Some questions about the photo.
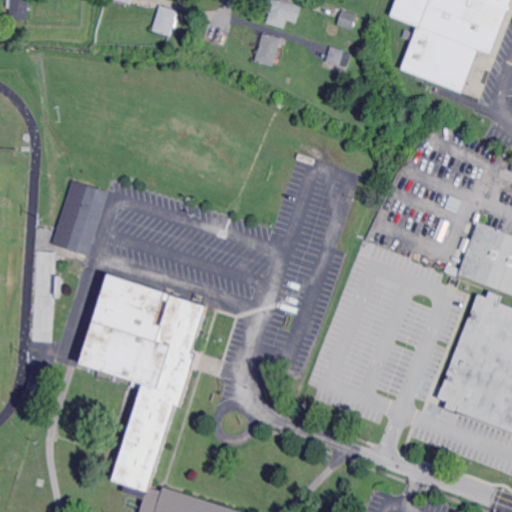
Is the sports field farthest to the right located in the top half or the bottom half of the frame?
top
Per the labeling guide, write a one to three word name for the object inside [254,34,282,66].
house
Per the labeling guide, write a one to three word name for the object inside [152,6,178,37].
house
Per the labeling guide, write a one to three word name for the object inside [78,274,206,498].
building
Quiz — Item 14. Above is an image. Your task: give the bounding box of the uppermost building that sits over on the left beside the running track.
[51,180,108,255]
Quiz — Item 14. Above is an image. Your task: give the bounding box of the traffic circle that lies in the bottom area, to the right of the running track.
[214,400,254,444]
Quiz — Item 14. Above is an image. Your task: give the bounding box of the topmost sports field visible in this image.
[58,61,300,226]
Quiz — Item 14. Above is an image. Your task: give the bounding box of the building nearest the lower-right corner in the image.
[430,290,512,434]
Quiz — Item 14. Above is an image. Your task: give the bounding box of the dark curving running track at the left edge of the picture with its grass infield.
[0,82,40,428]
